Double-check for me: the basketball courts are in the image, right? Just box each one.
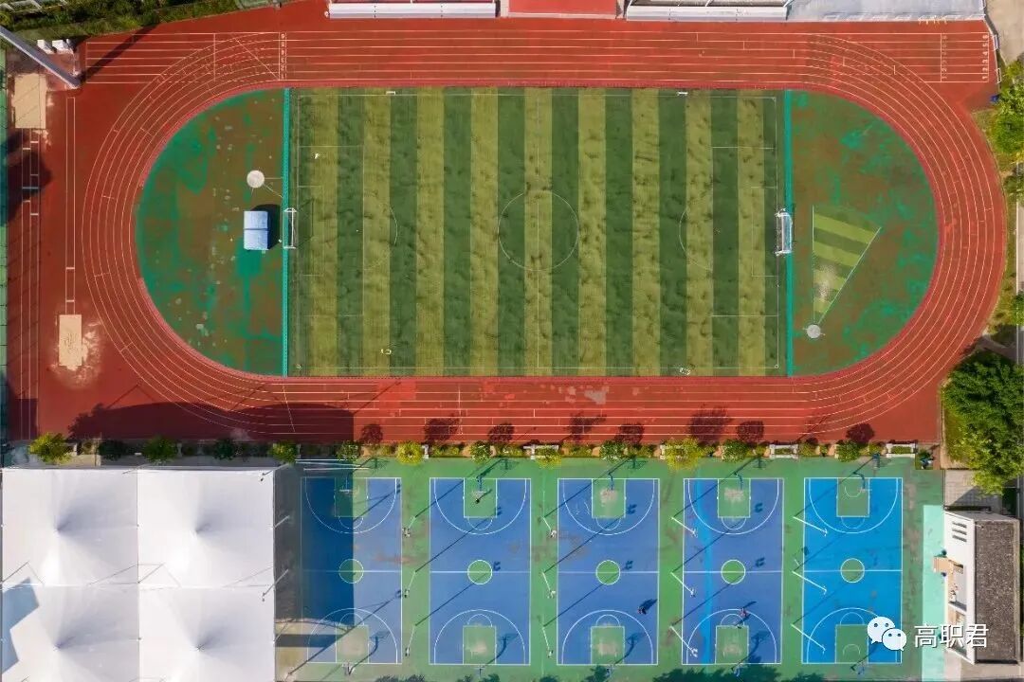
[803,477,903,664]
[301,477,402,664]
[683,478,784,665]
[557,478,659,665]
[429,478,531,665]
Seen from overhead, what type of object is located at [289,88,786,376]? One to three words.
soccer field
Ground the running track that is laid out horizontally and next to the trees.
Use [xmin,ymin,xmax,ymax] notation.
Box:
[8,0,1006,442]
